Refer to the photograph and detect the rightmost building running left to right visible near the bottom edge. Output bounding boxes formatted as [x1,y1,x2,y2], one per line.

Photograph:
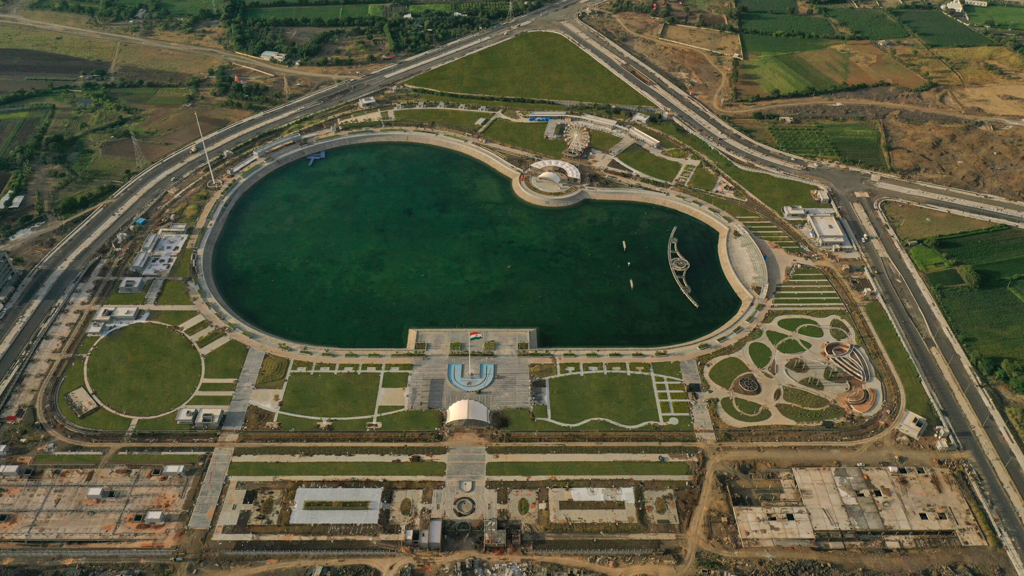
[727,467,989,551]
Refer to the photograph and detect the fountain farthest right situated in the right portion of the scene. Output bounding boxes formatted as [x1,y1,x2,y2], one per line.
[667,225,700,307]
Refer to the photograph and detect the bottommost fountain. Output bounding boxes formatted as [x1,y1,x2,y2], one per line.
[453,497,476,515]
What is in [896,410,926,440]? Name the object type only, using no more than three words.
building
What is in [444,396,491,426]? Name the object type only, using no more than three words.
tent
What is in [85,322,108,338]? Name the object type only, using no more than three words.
building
